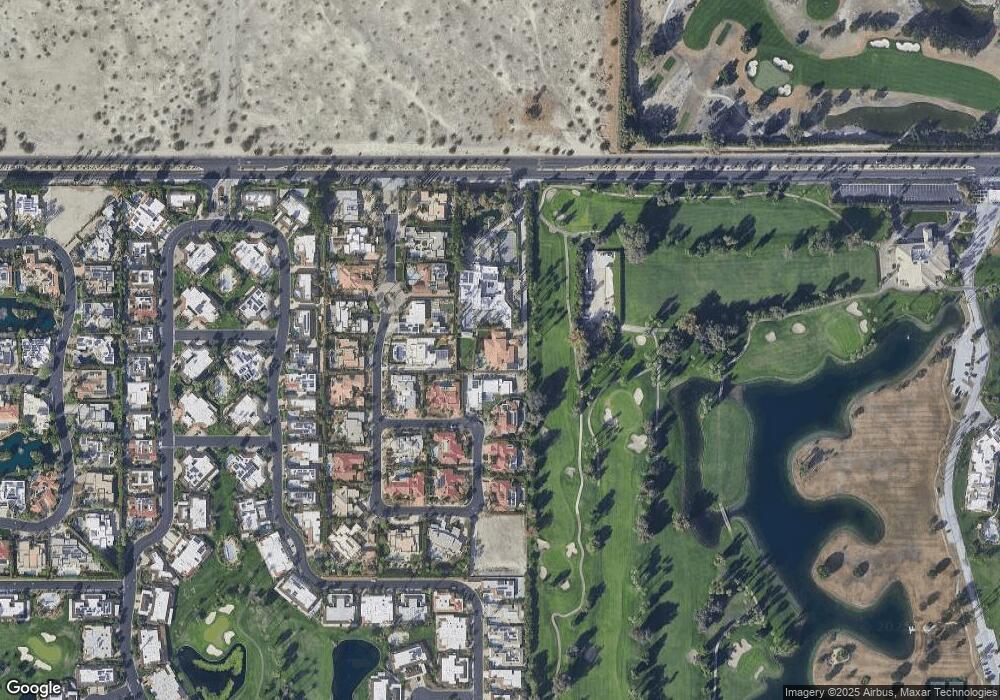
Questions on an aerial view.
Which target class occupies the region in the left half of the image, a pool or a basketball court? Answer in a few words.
pool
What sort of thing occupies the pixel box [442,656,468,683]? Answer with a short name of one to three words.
house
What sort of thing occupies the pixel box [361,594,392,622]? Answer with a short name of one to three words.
house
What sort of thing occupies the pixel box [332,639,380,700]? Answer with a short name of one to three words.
pond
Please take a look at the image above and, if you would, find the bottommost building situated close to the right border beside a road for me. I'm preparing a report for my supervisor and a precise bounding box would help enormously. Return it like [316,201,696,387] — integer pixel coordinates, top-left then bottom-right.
[967,418,1000,512]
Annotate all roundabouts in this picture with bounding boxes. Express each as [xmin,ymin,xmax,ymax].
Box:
[372,281,411,315]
